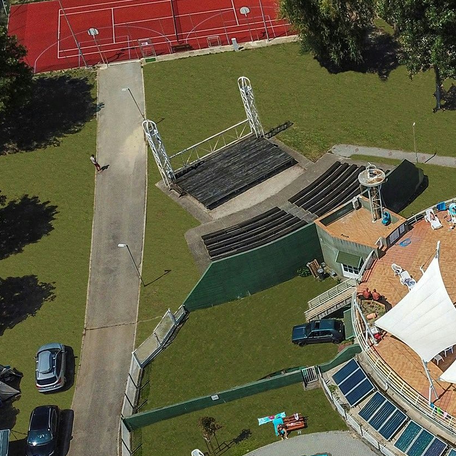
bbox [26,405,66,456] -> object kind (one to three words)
car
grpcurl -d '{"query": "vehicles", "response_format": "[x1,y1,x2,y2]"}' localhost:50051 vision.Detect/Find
[26,405,66,456]
[296,318,352,350]
[34,347,71,399]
